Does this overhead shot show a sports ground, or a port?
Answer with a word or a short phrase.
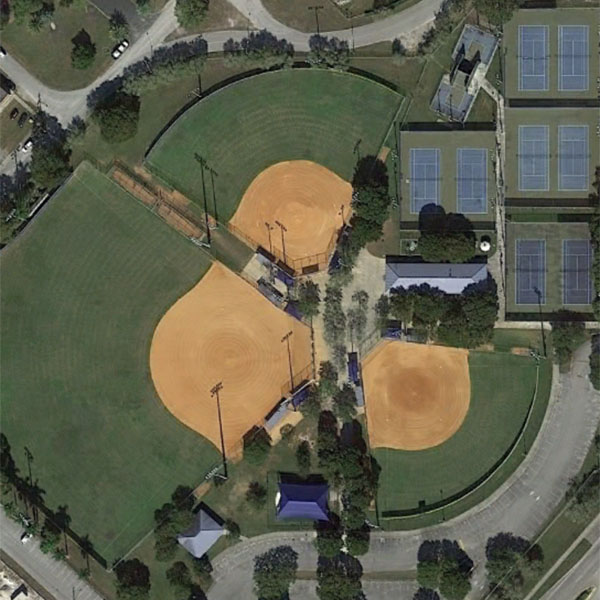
sports ground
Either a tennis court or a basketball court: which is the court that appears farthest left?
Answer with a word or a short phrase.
tennis court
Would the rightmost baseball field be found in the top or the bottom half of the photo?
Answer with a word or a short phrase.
bottom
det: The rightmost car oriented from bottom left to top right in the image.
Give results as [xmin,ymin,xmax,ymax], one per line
[114,41,128,55]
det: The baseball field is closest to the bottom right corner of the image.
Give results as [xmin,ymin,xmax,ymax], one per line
[363,341,538,517]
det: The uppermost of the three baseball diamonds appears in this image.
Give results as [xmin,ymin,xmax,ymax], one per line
[147,69,404,276]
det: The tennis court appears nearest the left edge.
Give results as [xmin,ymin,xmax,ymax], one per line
[400,131,448,229]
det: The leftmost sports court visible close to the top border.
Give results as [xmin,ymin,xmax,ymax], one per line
[430,23,499,122]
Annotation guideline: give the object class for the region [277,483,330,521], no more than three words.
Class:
building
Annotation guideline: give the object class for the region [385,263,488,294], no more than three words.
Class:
building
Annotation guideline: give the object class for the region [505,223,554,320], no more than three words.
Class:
tennis court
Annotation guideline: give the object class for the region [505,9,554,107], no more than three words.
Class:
tennis court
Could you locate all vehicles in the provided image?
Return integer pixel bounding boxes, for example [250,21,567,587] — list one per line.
[19,113,28,126]
[22,139,35,152]
[21,534,32,543]
[335,0,349,6]
[0,48,8,58]
[10,107,19,120]
[114,41,128,55]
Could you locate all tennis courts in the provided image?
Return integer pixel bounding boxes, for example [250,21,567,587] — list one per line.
[554,223,596,321]
[505,108,554,206]
[505,9,554,107]
[448,131,496,229]
[505,223,554,320]
[400,131,448,229]
[554,108,600,206]
[554,9,600,107]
